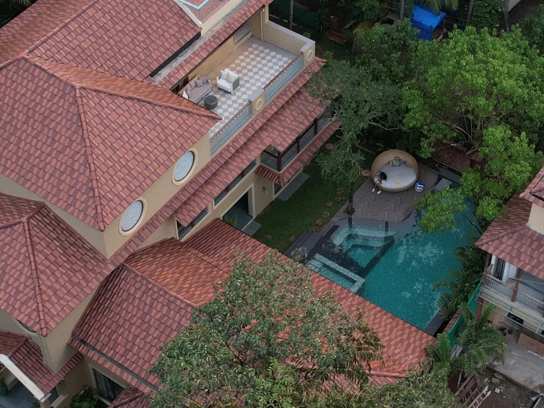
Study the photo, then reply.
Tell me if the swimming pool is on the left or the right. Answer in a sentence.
The swimming pool is on the right side of the image.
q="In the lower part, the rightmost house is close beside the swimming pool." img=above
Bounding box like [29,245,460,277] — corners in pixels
[471,159,544,341]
